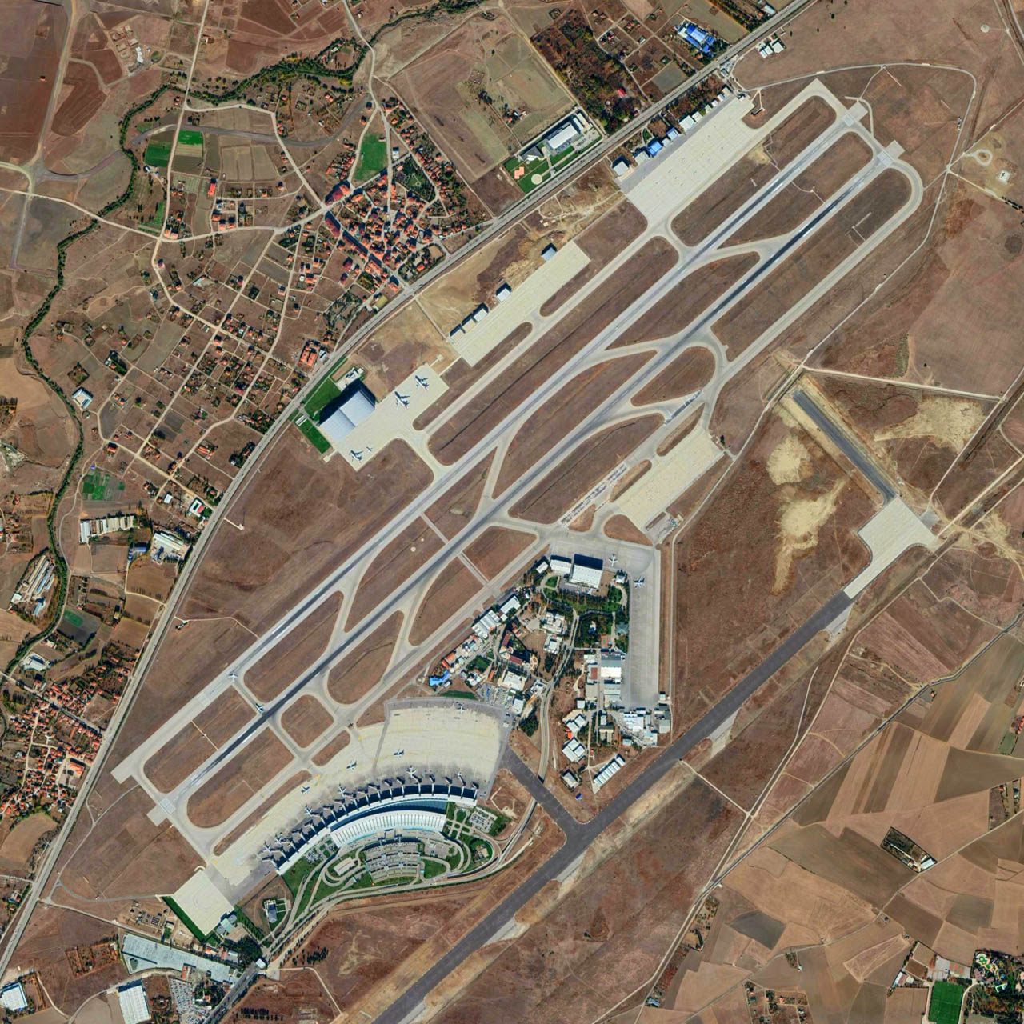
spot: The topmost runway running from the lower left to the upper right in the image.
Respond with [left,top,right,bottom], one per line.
[115,114,855,777]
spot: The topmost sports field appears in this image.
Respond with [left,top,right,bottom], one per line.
[354,138,387,180]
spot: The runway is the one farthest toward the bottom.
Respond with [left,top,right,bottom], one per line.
[373,590,852,1024]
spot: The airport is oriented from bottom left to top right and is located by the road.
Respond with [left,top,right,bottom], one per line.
[112,79,938,1024]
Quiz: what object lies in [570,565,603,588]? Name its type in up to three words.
hangar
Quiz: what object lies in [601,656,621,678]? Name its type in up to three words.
hangar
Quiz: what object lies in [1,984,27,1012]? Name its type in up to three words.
building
